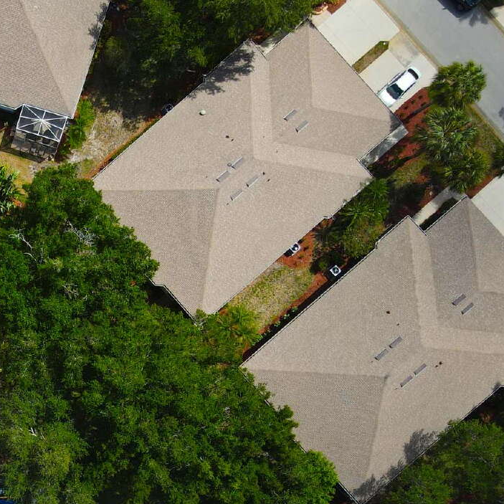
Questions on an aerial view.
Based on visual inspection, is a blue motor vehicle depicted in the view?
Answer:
No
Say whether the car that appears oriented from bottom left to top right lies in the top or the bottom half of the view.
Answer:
top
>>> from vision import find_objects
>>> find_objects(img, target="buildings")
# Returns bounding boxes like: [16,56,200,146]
[236,195,504,504]
[0,0,110,120]
[74,22,401,328]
